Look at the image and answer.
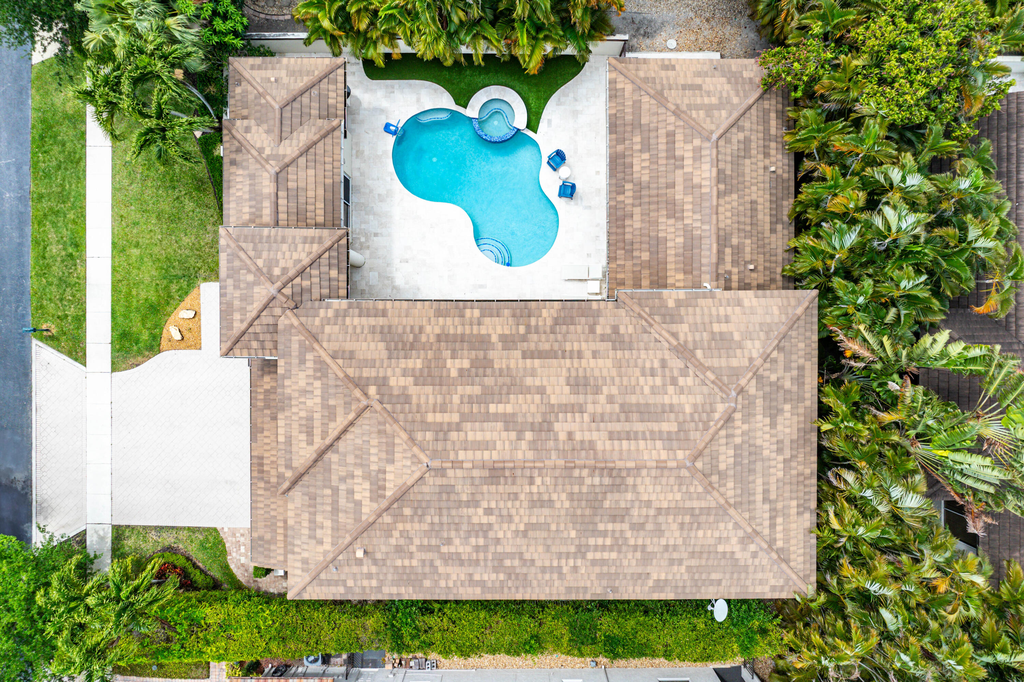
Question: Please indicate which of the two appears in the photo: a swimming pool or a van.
swimming pool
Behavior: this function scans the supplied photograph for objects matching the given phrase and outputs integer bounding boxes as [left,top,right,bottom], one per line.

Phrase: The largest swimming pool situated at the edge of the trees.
[386,101,565,273]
